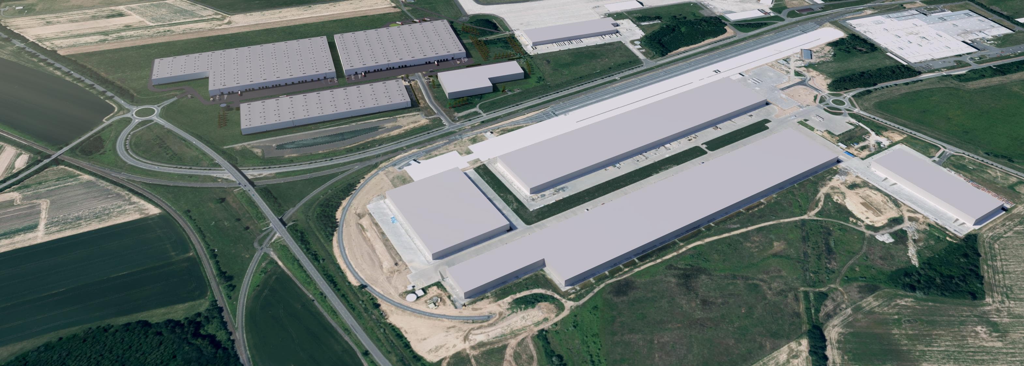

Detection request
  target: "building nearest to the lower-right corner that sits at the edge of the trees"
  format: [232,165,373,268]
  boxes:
[870,148,1004,226]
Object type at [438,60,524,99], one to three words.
building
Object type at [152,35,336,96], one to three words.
building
